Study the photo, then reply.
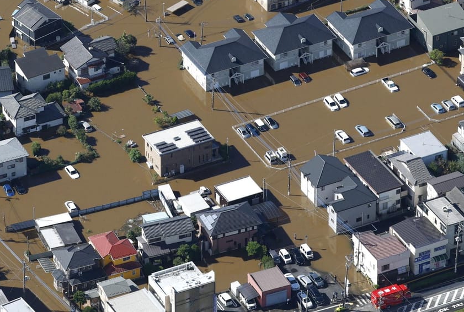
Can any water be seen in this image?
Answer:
Yes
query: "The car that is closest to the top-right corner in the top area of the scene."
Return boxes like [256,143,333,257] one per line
[421,67,437,80]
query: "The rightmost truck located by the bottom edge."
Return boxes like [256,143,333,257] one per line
[372,286,410,310]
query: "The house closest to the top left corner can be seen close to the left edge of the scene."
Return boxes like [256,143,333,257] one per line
[14,4,61,44]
